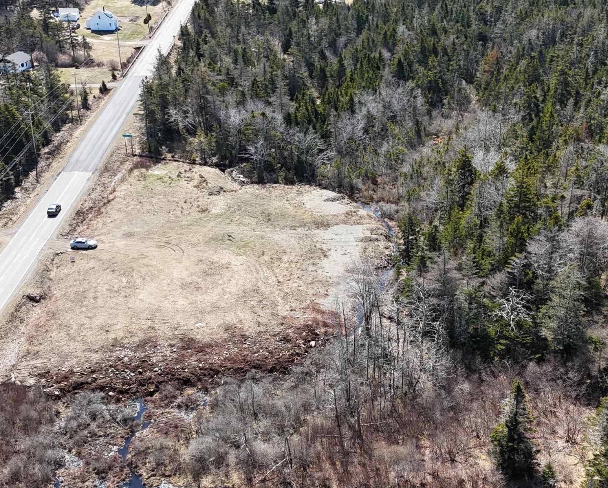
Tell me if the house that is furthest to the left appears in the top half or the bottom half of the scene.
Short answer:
top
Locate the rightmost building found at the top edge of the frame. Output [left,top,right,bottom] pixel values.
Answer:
[86,0,124,31]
